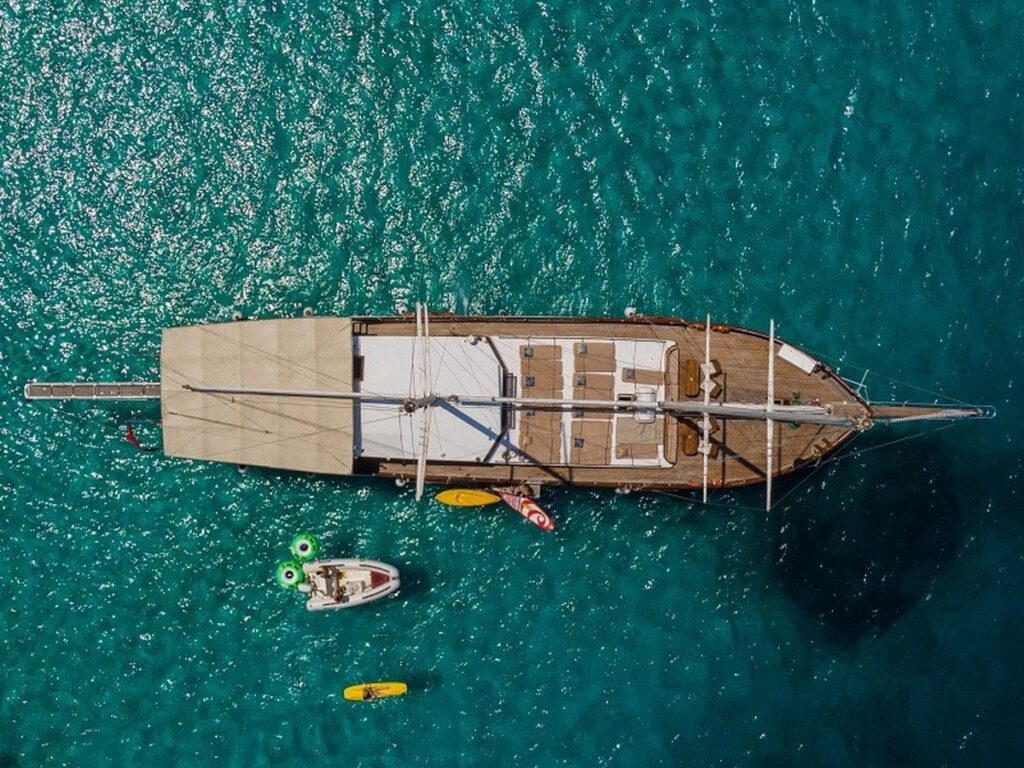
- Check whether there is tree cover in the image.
No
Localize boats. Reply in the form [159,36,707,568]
[24,303,997,511]
[436,488,500,506]
[298,559,400,611]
